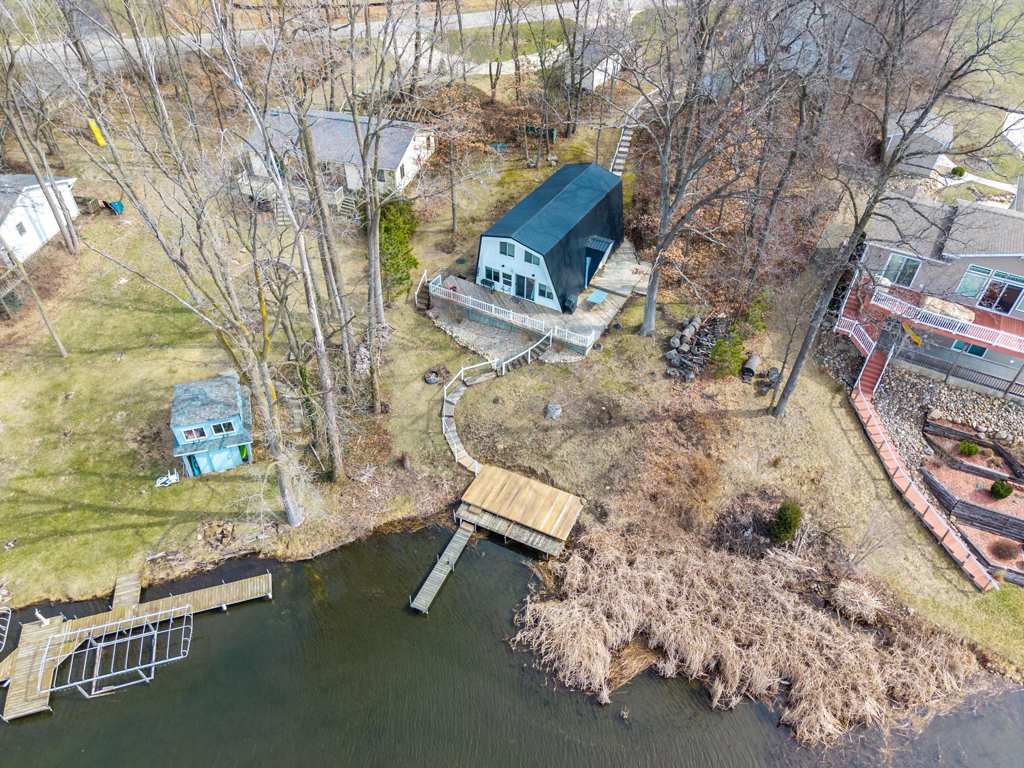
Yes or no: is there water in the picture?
Yes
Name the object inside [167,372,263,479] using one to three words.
shed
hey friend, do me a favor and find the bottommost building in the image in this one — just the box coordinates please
[461,465,584,558]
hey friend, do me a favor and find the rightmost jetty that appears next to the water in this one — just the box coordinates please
[454,500,572,560]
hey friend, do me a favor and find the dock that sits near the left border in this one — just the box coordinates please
[0,570,273,725]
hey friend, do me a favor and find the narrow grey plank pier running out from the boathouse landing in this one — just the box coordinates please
[409,524,477,621]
